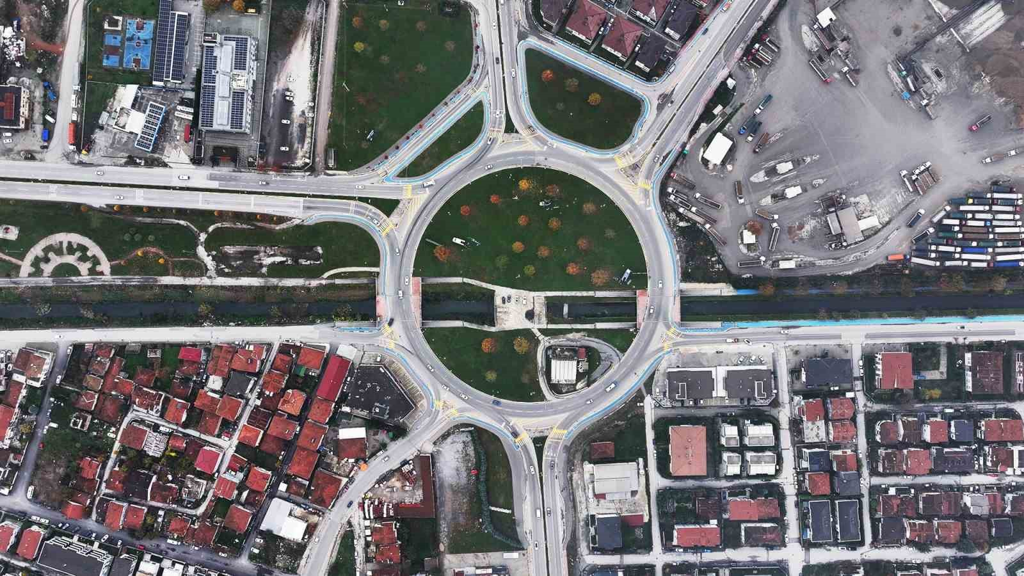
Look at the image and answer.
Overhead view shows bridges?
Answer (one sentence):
Yes, this view includes a bridge.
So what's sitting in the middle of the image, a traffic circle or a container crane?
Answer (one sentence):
The one visible in the middle of the image is a traffic circle.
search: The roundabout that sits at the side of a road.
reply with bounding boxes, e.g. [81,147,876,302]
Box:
[394,148,667,421]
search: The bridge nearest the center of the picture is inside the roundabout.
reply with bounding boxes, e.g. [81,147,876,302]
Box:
[495,287,546,331]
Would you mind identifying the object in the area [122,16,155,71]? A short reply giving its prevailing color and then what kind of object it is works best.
blue basketball court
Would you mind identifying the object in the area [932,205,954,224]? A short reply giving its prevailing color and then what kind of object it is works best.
white vehicle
